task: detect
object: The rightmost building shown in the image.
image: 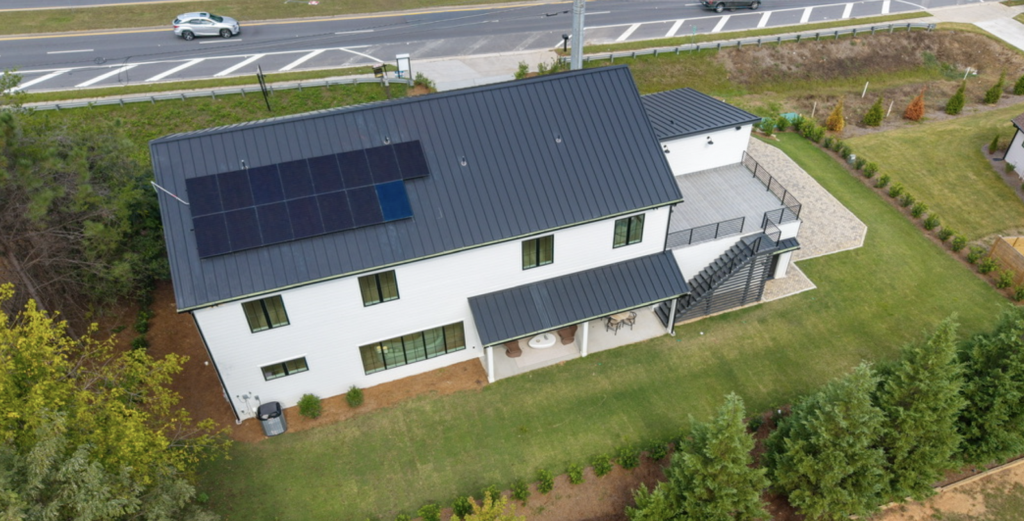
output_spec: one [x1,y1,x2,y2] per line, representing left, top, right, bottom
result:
[996,109,1024,172]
